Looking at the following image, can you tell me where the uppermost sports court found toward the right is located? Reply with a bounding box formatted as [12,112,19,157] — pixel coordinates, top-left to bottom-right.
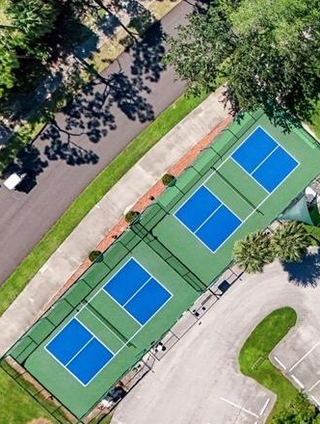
[137,97,320,286]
